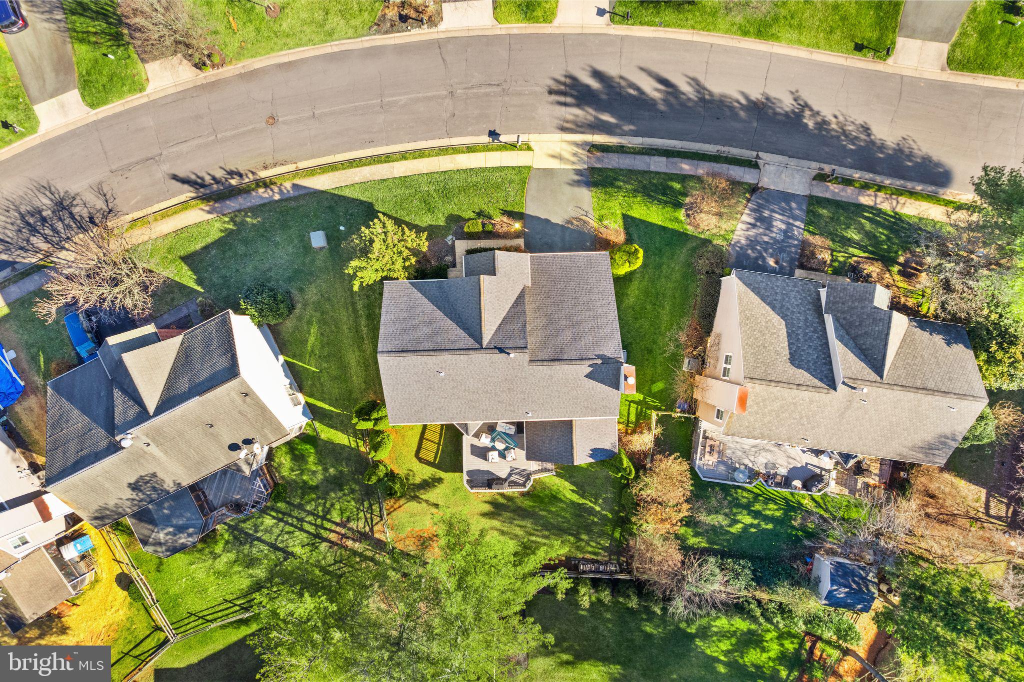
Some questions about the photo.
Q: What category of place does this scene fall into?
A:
residential area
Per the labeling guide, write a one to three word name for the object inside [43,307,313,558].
house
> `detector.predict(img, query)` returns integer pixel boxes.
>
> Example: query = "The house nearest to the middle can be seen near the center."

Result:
[375,249,634,466]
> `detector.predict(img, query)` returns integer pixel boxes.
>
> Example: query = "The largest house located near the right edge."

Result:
[696,268,993,469]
